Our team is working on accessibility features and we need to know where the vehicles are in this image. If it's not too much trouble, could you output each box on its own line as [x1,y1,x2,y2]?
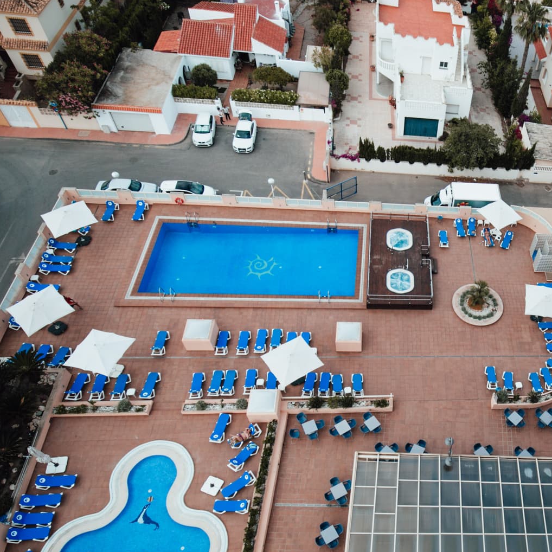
[190,115,216,150]
[93,173,157,198]
[157,175,216,200]
[231,106,257,156]
[426,182,501,216]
